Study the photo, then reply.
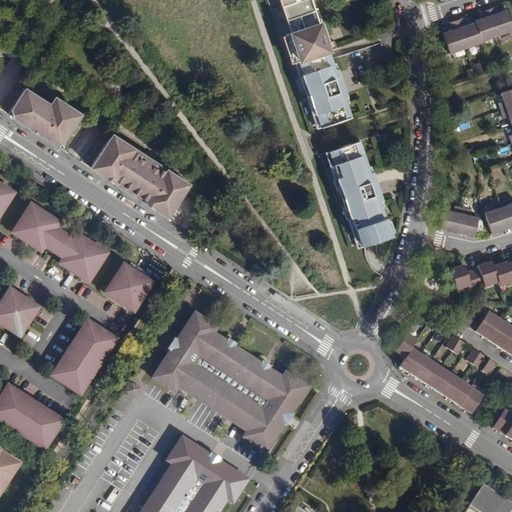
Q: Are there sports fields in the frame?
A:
No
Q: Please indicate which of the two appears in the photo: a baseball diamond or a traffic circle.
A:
traffic circle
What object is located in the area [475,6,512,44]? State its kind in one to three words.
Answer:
house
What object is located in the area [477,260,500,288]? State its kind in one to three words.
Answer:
house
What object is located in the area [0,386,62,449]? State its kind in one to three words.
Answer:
building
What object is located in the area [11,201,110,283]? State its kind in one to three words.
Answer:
building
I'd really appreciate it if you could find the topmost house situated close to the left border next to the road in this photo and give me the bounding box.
[12,90,84,150]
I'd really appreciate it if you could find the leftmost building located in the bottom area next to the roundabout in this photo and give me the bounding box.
[152,310,311,450]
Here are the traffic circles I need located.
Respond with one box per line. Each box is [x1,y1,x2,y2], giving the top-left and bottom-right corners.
[331,337,386,392]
